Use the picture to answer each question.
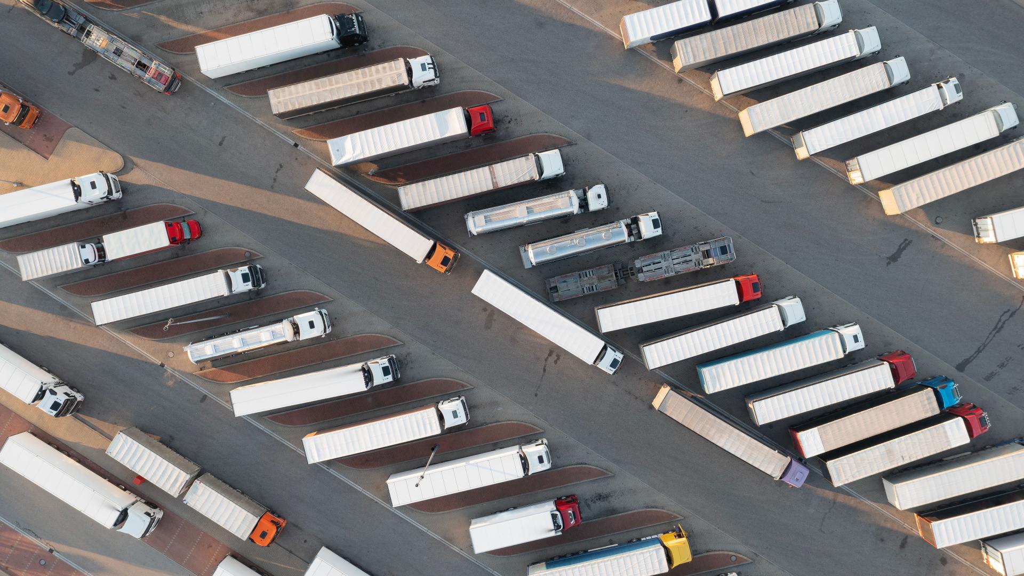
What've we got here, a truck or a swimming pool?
truck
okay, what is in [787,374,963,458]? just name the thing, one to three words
truck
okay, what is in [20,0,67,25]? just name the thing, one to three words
car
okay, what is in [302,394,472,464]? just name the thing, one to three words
truck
